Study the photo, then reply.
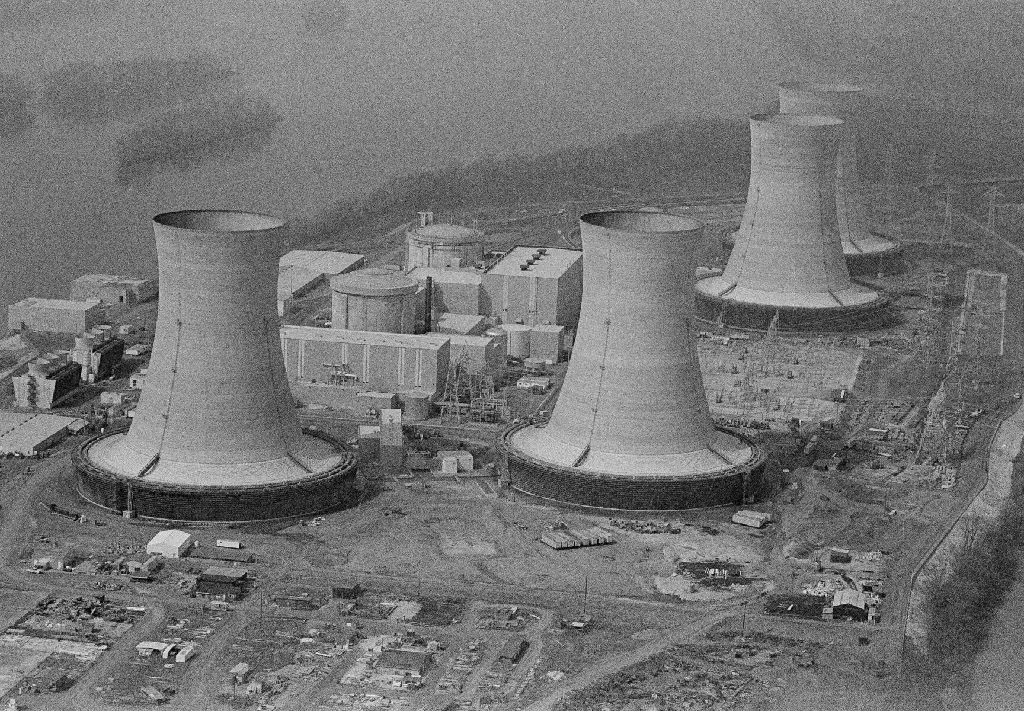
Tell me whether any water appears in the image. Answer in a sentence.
Yes, the picture does contain water.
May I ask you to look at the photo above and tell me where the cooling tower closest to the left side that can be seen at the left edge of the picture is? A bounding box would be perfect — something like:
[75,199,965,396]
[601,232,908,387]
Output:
[13,354,78,411]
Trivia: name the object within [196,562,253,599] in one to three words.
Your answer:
building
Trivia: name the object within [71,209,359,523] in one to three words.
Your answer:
cooling tower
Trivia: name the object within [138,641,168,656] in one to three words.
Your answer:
shed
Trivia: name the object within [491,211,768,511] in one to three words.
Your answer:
cooling tower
